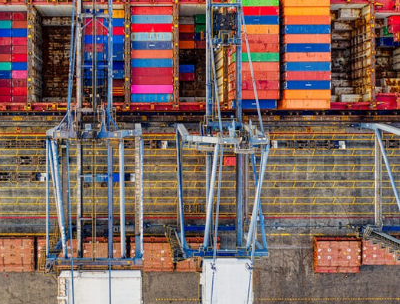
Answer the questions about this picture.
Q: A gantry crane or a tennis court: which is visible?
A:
gantry crane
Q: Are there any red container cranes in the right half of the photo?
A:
No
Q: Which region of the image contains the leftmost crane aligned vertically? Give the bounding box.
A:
[39,0,148,304]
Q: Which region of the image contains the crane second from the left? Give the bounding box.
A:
[150,0,273,304]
